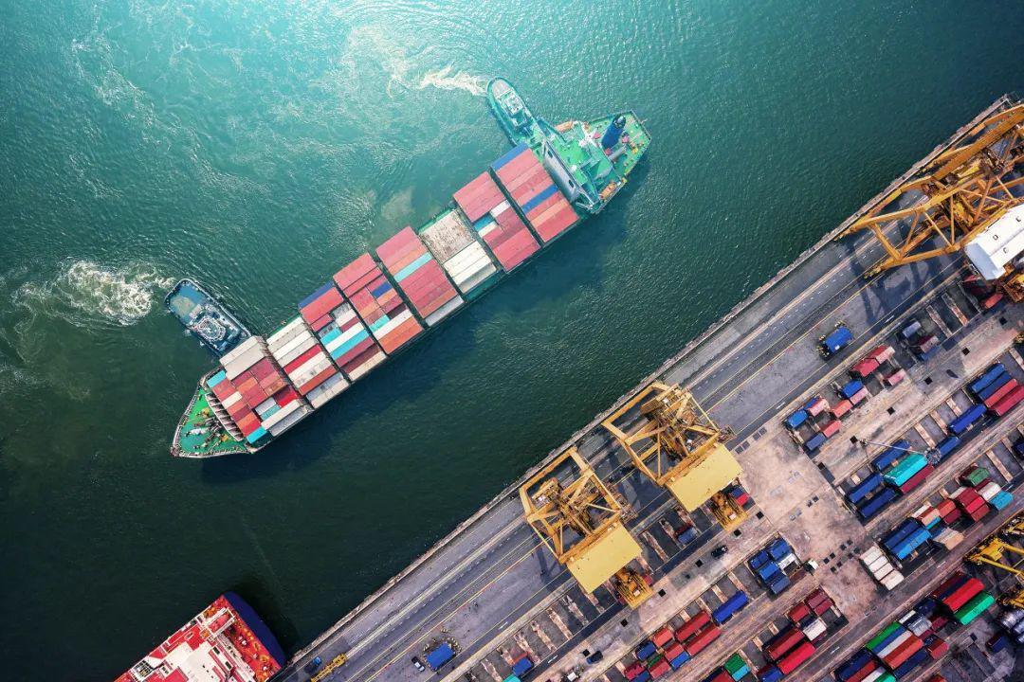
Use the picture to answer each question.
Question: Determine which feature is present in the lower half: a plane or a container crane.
container crane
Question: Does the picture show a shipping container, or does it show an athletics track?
shipping container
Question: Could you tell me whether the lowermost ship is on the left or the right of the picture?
left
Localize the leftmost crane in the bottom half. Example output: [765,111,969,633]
[517,444,663,623]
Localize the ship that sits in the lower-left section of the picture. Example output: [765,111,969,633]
[114,590,286,682]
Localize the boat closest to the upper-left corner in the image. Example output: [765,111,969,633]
[164,279,247,354]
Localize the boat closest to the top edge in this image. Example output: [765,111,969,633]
[487,71,542,145]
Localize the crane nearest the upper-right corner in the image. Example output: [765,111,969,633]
[929,101,1024,200]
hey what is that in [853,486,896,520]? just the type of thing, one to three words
shipping container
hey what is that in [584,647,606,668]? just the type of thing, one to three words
truck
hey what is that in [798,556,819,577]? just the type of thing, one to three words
truck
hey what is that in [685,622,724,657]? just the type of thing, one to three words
shipping container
